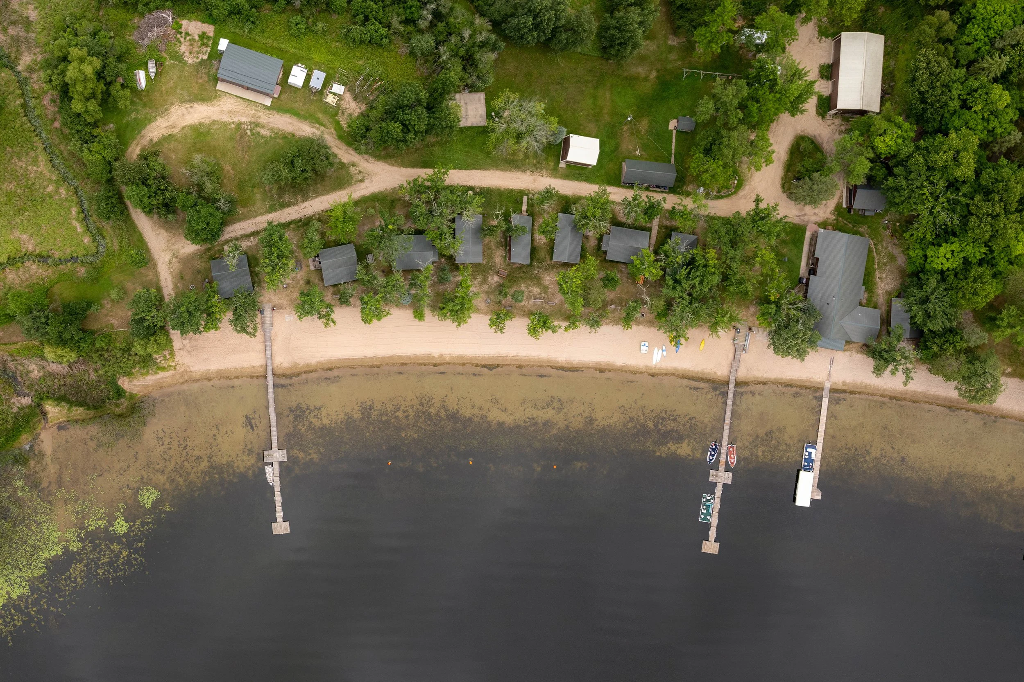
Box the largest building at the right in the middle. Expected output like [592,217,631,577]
[804,230,881,351]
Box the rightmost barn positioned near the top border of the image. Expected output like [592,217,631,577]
[829,29,884,121]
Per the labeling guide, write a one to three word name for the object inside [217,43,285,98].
building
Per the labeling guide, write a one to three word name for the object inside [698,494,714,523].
boat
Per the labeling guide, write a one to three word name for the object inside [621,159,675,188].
building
